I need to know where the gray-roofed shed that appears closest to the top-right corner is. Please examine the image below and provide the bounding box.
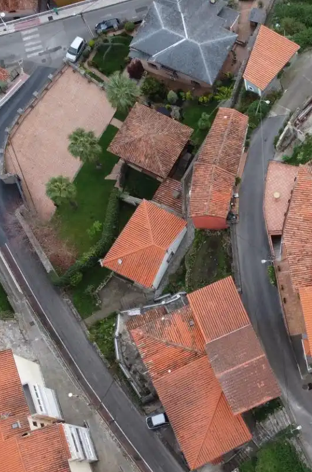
[250,9,268,32]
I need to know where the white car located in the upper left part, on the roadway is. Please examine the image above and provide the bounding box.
[63,36,86,64]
